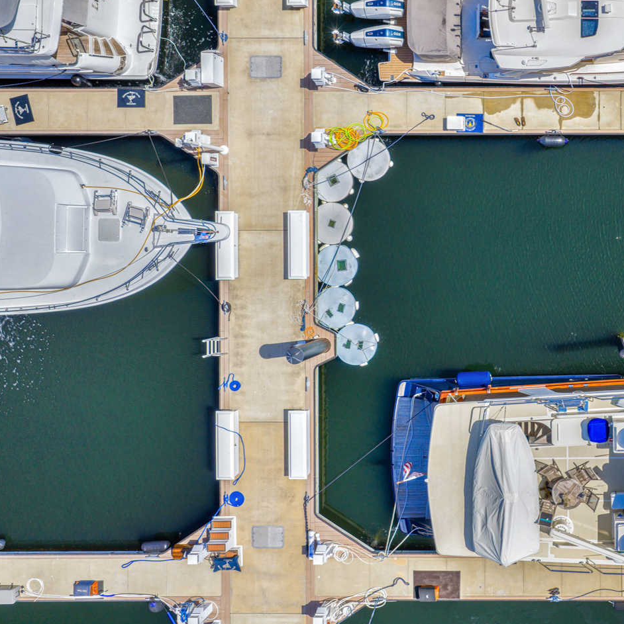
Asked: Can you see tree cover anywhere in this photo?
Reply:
No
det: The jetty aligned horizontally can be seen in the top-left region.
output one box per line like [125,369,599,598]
[0,86,219,136]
